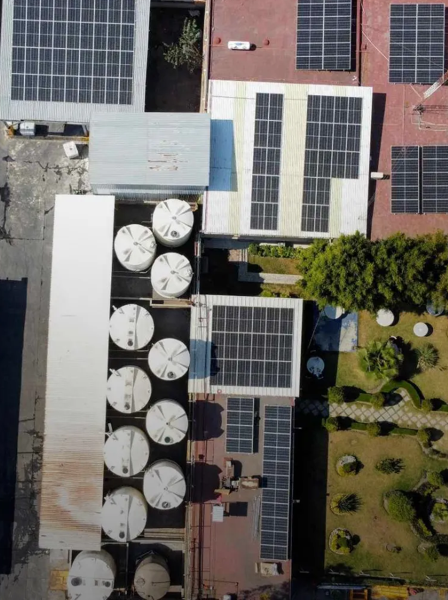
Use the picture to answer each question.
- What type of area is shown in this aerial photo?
industrial area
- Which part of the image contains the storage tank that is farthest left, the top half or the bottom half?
bottom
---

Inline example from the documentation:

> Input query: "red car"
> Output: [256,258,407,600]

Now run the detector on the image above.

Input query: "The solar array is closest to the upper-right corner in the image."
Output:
[390,4,445,84]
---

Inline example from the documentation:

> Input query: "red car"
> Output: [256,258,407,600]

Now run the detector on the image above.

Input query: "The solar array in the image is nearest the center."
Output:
[210,306,294,388]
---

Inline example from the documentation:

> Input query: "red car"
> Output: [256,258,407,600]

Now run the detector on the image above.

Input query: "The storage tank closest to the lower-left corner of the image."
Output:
[67,546,118,600]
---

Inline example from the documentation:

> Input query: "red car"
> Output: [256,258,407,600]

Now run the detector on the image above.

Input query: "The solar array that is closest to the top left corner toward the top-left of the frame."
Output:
[10,0,135,104]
